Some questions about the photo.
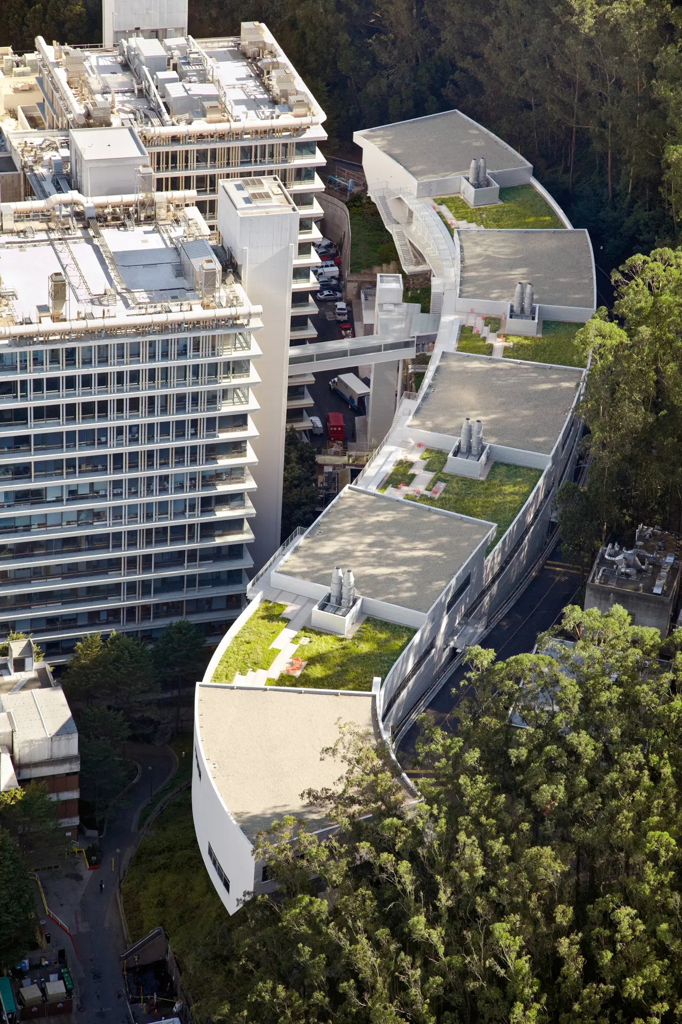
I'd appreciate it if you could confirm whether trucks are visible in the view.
Yes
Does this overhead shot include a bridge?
Yes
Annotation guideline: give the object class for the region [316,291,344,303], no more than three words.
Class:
vehicle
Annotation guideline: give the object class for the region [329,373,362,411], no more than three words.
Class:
truck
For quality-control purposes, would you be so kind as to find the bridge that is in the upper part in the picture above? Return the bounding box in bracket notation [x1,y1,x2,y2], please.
[291,327,417,376]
